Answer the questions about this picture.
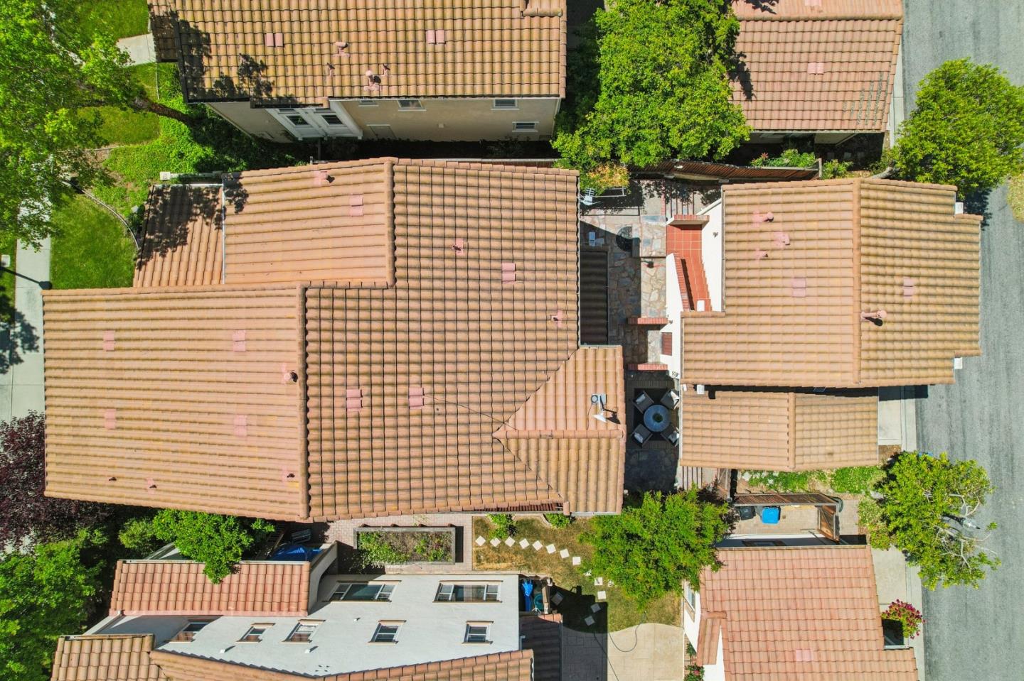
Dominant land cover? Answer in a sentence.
What you mostly see from above here is buildings.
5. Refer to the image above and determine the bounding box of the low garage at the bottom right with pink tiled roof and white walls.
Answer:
[684,532,922,681]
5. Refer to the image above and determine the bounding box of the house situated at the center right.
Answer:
[660,173,986,476]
